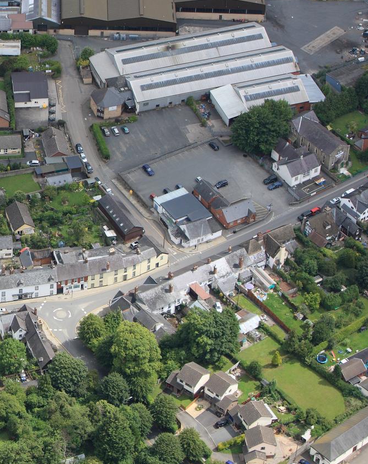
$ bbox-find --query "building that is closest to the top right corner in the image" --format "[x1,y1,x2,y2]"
[325,63,366,93]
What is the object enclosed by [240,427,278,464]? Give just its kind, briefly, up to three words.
house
